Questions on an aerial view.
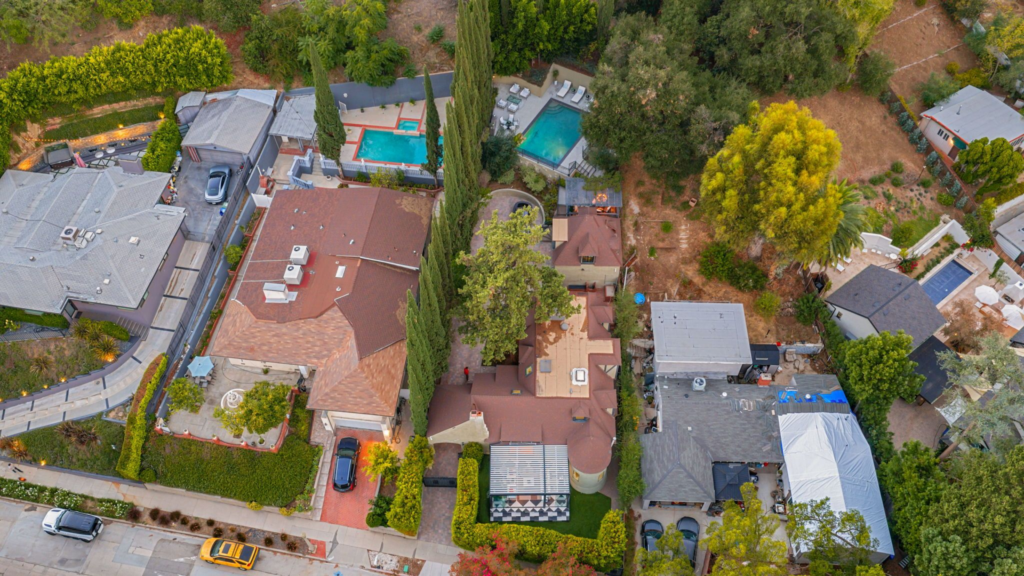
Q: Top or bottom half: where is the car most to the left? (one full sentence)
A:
The car most to the left sits in the bottom half of the picture.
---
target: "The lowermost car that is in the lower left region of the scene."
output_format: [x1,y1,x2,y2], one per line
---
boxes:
[194,535,257,574]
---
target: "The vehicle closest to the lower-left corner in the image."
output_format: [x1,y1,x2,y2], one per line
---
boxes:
[34,506,102,546]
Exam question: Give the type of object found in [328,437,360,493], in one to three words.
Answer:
car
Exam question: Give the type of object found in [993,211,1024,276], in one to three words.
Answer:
shed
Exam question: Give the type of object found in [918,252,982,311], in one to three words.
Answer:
swimming pool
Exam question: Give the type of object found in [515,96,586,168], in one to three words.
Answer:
swimming pool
